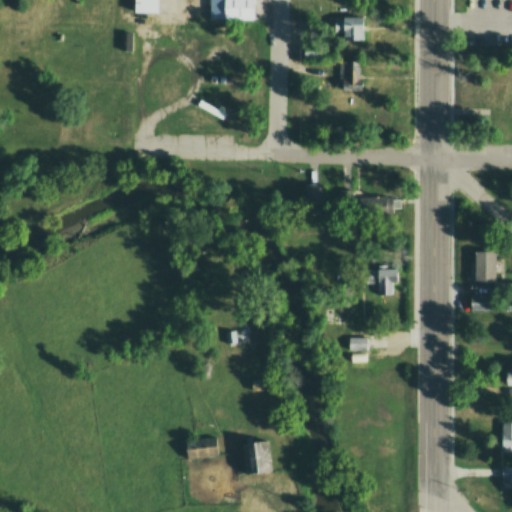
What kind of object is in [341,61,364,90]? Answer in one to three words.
house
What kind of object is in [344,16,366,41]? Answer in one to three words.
house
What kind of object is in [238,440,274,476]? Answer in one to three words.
barn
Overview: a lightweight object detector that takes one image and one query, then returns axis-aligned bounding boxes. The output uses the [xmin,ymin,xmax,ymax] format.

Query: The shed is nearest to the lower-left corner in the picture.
[187,437,220,460]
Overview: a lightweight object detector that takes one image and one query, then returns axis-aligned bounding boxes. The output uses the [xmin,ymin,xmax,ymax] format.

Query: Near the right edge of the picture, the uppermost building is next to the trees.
[476,252,505,282]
